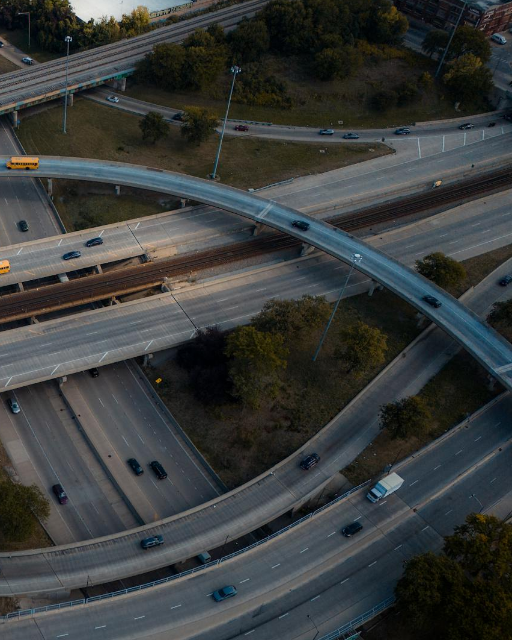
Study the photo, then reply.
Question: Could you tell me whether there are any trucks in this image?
Yes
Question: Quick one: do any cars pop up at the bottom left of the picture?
Yes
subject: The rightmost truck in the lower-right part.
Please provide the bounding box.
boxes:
[366,467,409,503]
